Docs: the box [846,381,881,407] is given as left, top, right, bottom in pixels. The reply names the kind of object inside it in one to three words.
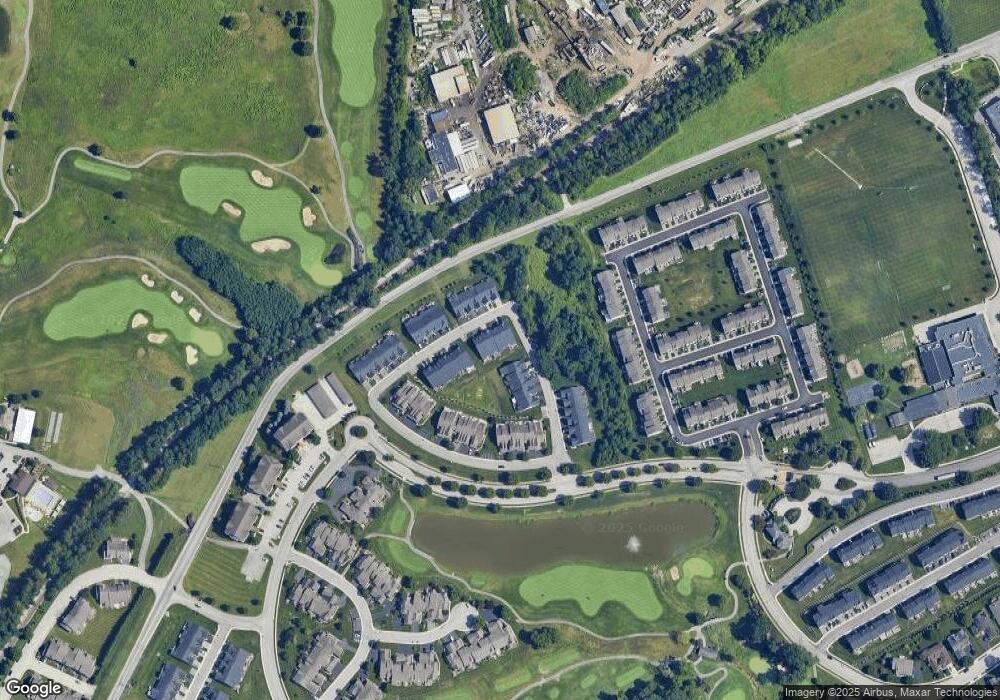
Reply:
basketball court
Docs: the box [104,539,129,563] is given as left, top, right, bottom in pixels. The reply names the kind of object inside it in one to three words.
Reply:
house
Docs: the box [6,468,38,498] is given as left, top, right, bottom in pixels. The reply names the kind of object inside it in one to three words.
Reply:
building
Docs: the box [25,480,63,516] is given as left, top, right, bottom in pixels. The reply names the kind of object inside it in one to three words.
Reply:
swimming pool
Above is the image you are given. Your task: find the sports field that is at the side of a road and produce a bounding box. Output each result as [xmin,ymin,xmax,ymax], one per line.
[782,105,987,349]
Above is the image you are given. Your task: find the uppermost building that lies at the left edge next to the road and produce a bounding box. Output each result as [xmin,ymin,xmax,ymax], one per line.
[12,409,36,444]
